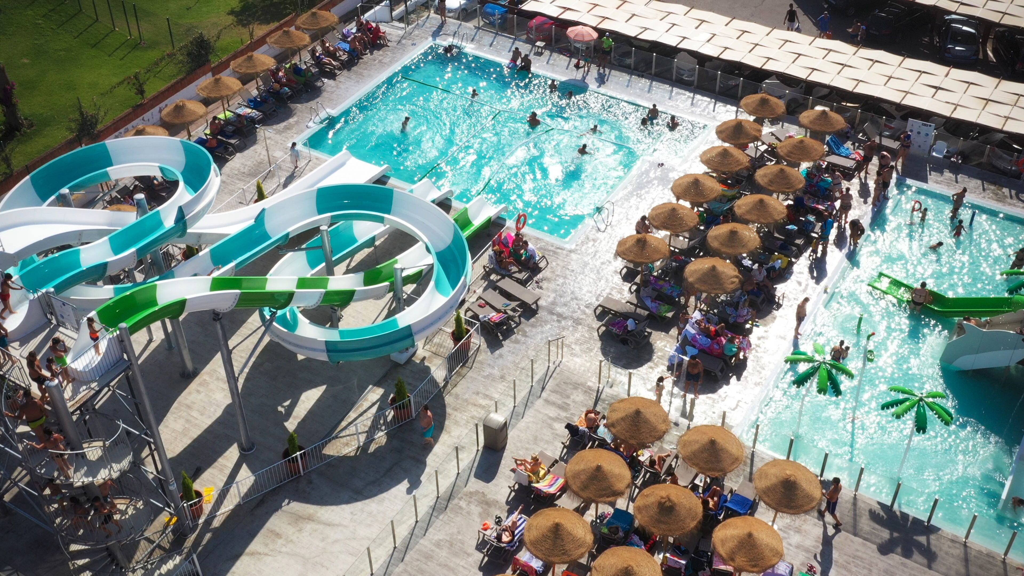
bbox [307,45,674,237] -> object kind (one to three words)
swimming pool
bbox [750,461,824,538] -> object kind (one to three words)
umbrella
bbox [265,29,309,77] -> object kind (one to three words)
umbrella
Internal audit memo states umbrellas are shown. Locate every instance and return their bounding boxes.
[750,461,824,538]
[559,19,602,69]
[293,9,337,51]
[794,111,847,145]
[632,486,711,560]
[614,234,670,293]
[265,29,309,77]
[592,547,665,576]
[230,51,278,98]
[729,197,787,234]
[692,146,746,185]
[515,510,589,576]
[755,163,807,204]
[668,178,720,213]
[701,224,763,265]
[717,120,766,154]
[159,101,209,136]
[672,429,744,497]
[558,454,633,533]
[675,256,736,314]
[599,401,670,472]
[736,95,788,129]
[645,205,698,248]
[197,73,246,124]
[713,521,791,576]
